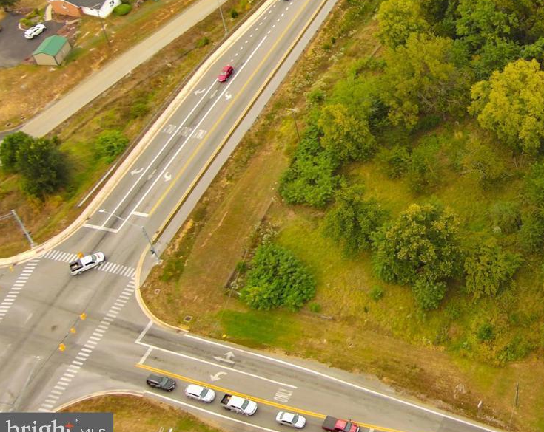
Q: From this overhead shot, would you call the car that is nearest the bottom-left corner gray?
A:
Yes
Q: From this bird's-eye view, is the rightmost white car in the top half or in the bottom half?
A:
bottom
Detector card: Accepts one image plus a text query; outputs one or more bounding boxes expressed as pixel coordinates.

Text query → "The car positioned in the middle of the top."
[216,63,233,80]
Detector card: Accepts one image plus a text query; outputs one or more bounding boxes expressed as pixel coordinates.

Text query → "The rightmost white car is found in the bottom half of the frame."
[273,408,307,429]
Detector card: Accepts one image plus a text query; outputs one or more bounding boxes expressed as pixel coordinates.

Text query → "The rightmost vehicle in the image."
[319,413,360,432]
